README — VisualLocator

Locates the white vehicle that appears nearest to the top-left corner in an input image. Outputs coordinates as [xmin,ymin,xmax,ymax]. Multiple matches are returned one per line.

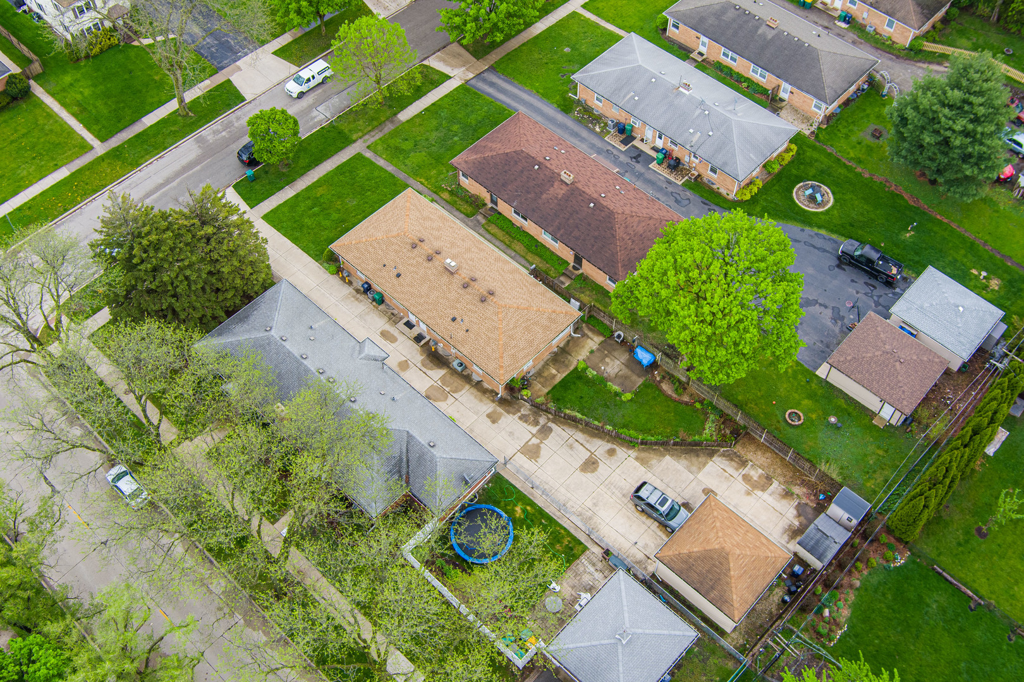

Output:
[280,57,335,99]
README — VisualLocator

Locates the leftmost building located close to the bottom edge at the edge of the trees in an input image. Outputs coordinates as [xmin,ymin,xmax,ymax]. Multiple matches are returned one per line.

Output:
[544,565,702,682]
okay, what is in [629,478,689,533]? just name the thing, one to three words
car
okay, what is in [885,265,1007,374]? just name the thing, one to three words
building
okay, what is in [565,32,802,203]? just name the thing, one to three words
house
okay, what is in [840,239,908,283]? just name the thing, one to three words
truck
